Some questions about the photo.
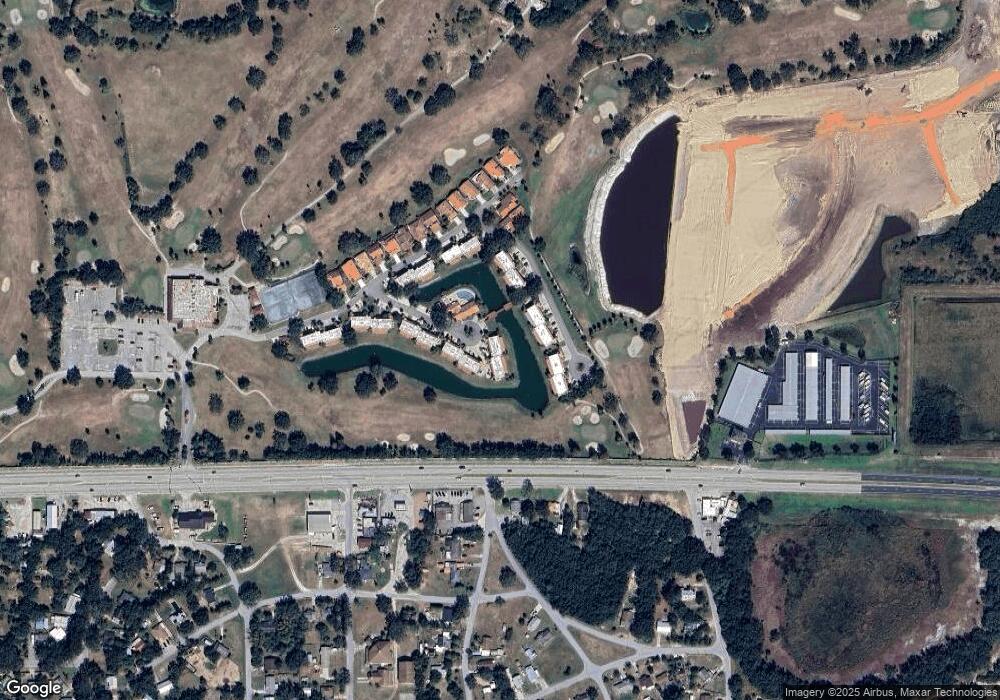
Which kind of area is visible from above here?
golf course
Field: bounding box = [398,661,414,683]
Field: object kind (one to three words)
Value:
house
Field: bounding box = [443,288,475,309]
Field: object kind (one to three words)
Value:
swimming pool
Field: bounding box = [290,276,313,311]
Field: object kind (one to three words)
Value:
tennis court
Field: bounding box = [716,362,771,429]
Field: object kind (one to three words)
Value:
building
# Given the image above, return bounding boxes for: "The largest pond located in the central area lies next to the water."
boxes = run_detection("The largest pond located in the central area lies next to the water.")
[302,261,547,411]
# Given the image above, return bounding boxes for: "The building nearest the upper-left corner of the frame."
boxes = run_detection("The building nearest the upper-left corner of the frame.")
[167,277,219,327]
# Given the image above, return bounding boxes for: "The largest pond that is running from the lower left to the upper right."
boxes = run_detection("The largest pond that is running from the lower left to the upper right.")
[827,216,912,311]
